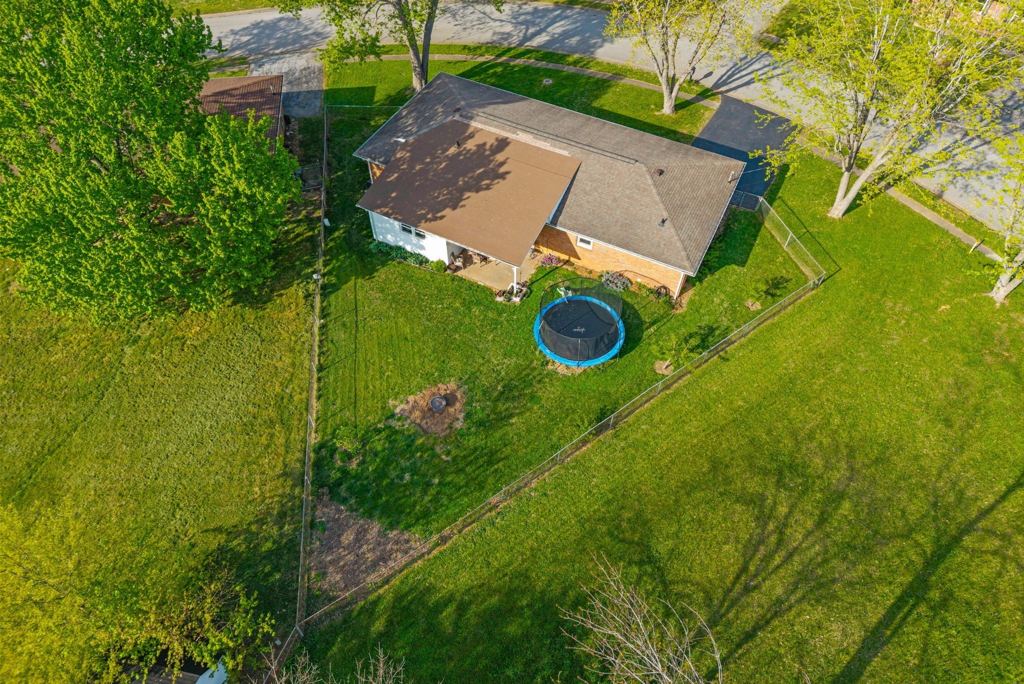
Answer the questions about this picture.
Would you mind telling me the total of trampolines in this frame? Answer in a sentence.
Only 1 trampoline is visible.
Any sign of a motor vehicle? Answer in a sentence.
No, the photo shows no motor vehicle.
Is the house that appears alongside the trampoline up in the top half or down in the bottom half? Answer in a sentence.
The house that appears alongside the trampoline sits in the top half of the picture.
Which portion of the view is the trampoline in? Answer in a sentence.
The trampoline appears toward the center of the photo.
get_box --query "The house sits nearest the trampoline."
[353,72,750,304]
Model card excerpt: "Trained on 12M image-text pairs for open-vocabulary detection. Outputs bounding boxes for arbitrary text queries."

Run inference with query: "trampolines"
[533,275,624,374]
